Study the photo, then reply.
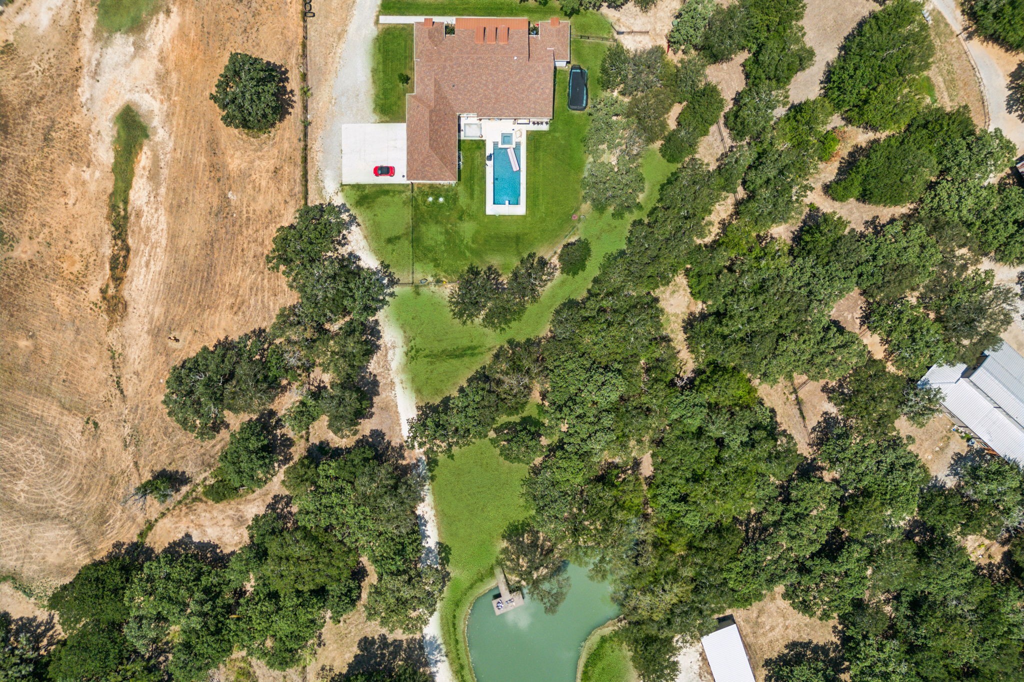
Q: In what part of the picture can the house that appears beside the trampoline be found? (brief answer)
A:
top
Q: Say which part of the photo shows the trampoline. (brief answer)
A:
top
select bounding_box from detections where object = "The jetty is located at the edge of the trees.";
[492,565,524,616]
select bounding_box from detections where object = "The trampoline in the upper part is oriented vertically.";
[569,65,589,111]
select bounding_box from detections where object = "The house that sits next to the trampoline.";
[406,16,571,183]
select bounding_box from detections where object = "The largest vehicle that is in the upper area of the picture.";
[374,165,395,177]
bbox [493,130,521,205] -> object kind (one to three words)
swimming pool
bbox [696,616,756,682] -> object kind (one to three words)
shed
